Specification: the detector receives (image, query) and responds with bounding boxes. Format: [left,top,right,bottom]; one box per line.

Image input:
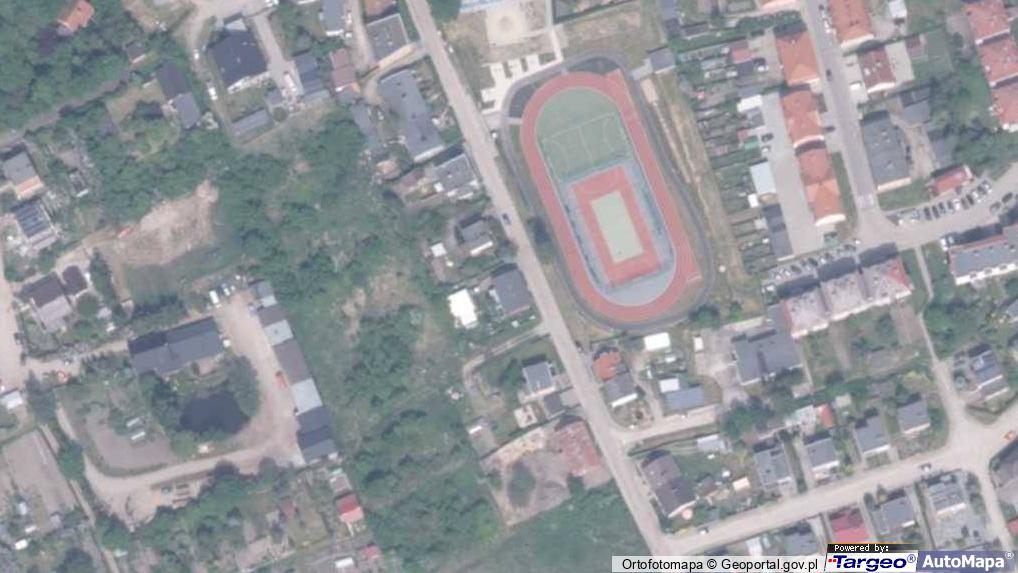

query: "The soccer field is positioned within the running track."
[538,91,633,188]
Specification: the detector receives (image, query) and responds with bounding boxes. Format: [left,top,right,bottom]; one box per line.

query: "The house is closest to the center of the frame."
[490,270,533,315]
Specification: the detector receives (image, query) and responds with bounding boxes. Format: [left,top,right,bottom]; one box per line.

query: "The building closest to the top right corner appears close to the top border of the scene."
[964,0,1012,44]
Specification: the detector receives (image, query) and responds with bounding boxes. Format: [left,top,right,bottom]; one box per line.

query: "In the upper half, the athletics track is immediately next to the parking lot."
[520,74,703,320]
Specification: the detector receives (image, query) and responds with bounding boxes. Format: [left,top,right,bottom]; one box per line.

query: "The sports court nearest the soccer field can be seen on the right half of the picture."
[571,166,661,287]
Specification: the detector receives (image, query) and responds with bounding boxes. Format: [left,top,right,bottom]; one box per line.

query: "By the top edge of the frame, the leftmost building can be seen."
[56,0,94,39]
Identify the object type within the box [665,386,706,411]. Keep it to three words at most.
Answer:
barn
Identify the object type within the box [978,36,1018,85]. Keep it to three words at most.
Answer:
building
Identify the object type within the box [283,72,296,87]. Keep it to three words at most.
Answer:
vehicle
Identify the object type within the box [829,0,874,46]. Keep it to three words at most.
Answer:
house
